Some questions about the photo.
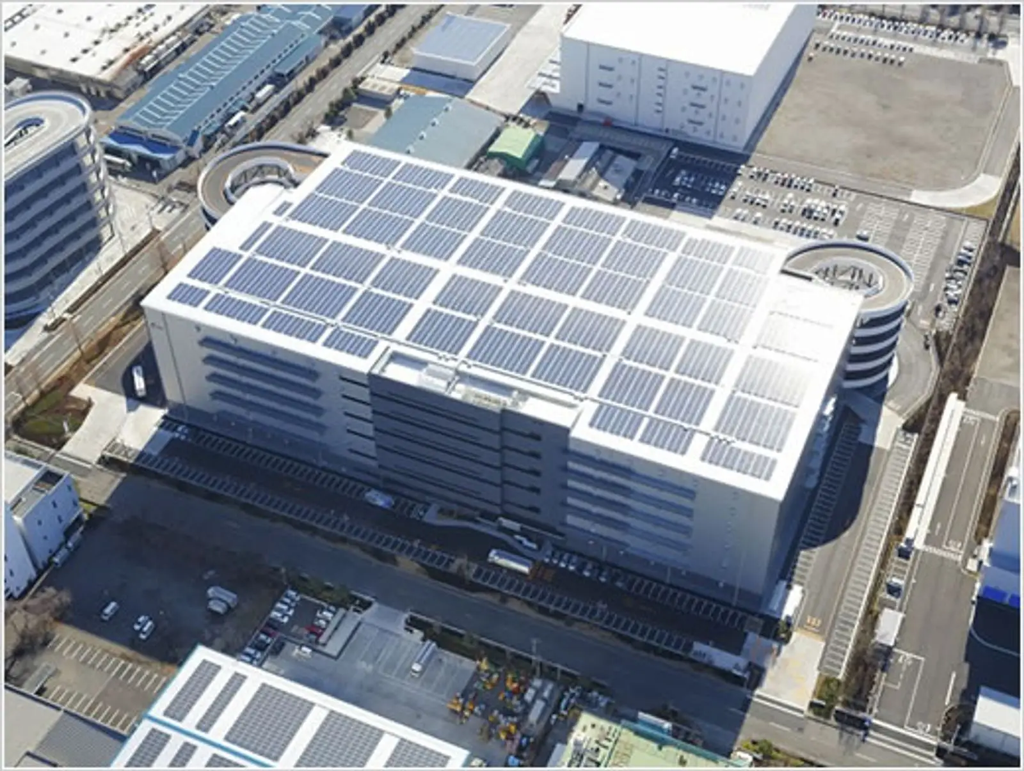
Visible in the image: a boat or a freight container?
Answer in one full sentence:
The one in the frame is a freight container.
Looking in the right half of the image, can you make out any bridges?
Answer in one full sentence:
No, looking in the right half of the image, there is no bridge.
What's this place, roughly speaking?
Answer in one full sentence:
The picture captures an industrial area.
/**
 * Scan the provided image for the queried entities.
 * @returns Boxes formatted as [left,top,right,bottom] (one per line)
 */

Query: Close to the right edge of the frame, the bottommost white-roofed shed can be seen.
[965,686,1024,758]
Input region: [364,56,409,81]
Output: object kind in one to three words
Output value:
shed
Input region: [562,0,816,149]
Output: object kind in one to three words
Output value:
building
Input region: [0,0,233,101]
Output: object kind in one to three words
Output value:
building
